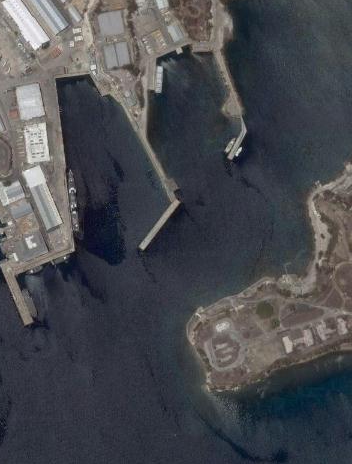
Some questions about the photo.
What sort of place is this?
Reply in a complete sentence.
This looks like a port.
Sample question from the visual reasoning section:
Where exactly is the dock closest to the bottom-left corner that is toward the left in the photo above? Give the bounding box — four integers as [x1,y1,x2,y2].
[0,259,33,326]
